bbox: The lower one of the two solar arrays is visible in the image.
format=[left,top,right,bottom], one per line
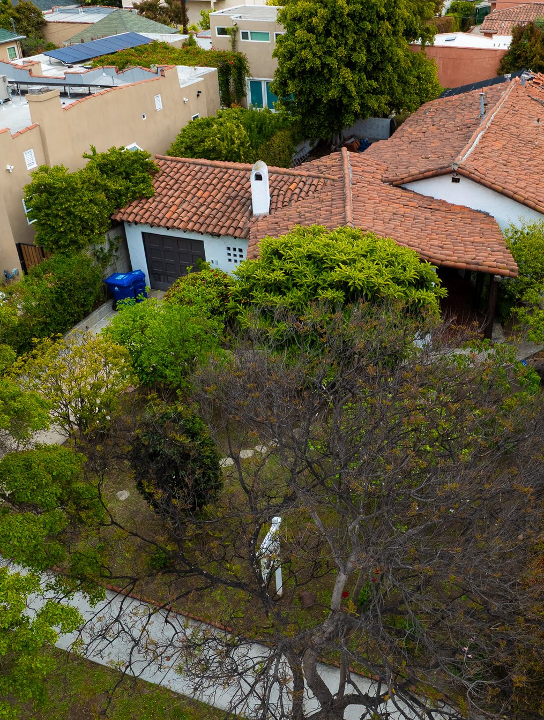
[12,80,116,100]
